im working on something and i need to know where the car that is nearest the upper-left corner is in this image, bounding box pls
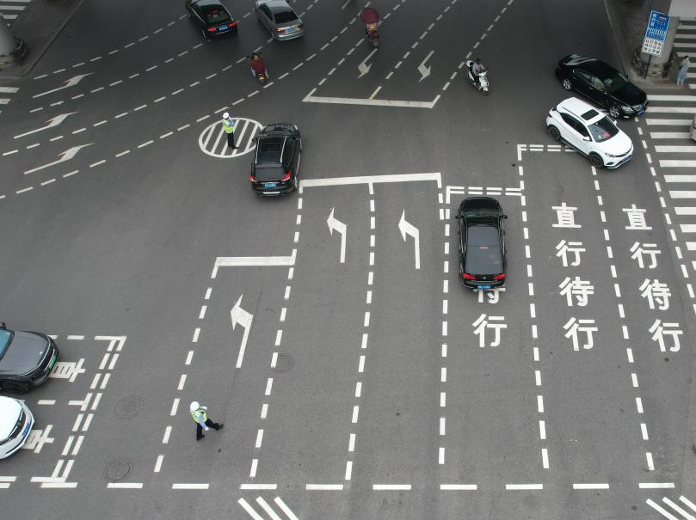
[182,0,240,43]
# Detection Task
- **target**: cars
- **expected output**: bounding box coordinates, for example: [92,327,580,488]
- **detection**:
[248,121,304,200]
[0,323,59,393]
[555,52,653,119]
[253,0,309,42]
[454,193,514,289]
[0,395,35,456]
[182,0,240,43]
[545,97,638,169]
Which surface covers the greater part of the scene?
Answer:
paved ground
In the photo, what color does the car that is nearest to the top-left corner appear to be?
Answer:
black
